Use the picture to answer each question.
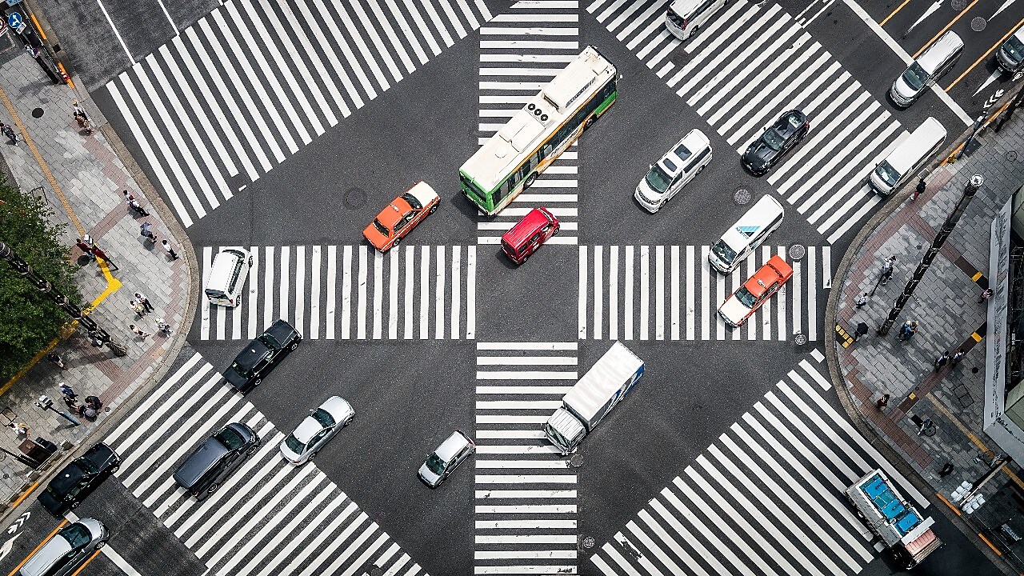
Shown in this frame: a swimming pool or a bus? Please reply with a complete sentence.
There is a bus in the scene.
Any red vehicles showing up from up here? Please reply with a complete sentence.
Yes, the photo shows a red vehicle.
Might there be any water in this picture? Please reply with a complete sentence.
No, there is no water in the image.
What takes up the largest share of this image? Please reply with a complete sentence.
The largest share of the image is taken up by paved ground.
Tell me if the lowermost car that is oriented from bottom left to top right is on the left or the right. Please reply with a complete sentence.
It is on the left.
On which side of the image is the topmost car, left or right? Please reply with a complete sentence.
The topmost car appears in the right half of the scene.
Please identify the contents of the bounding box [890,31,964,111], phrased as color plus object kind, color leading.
white car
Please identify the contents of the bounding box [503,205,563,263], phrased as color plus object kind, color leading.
red van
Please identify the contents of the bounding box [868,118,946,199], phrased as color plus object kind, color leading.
white van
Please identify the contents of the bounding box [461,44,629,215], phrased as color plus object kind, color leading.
white bus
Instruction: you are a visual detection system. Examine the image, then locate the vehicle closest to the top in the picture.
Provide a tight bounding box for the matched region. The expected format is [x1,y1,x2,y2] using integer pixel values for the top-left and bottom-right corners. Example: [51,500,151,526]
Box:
[667,0,732,39]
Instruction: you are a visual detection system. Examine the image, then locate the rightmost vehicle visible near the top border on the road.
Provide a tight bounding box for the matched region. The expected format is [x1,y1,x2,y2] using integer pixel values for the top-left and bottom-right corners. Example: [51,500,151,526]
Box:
[994,21,1024,73]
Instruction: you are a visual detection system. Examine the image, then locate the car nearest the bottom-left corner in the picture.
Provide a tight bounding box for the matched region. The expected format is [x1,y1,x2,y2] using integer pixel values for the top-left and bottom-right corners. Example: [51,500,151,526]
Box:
[25,517,109,576]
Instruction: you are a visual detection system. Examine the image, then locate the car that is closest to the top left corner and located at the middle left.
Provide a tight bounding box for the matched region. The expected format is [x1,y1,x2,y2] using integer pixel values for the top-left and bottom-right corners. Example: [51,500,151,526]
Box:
[207,245,255,308]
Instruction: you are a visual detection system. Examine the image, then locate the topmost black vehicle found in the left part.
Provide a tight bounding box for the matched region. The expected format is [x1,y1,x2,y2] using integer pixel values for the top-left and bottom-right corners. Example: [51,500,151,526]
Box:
[222,318,302,395]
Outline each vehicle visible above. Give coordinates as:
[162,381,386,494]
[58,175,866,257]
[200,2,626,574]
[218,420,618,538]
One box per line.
[38,442,123,518]
[176,421,260,496]
[994,21,1024,73]
[25,517,109,576]
[717,254,795,330]
[363,179,442,253]
[461,44,629,215]
[842,464,952,573]
[741,109,810,177]
[222,318,302,395]
[207,245,255,308]
[281,396,356,467]
[890,31,964,111]
[868,118,946,199]
[415,428,477,491]
[635,130,711,213]
[503,205,563,263]
[537,339,644,458]
[667,0,732,39]
[708,195,783,277]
